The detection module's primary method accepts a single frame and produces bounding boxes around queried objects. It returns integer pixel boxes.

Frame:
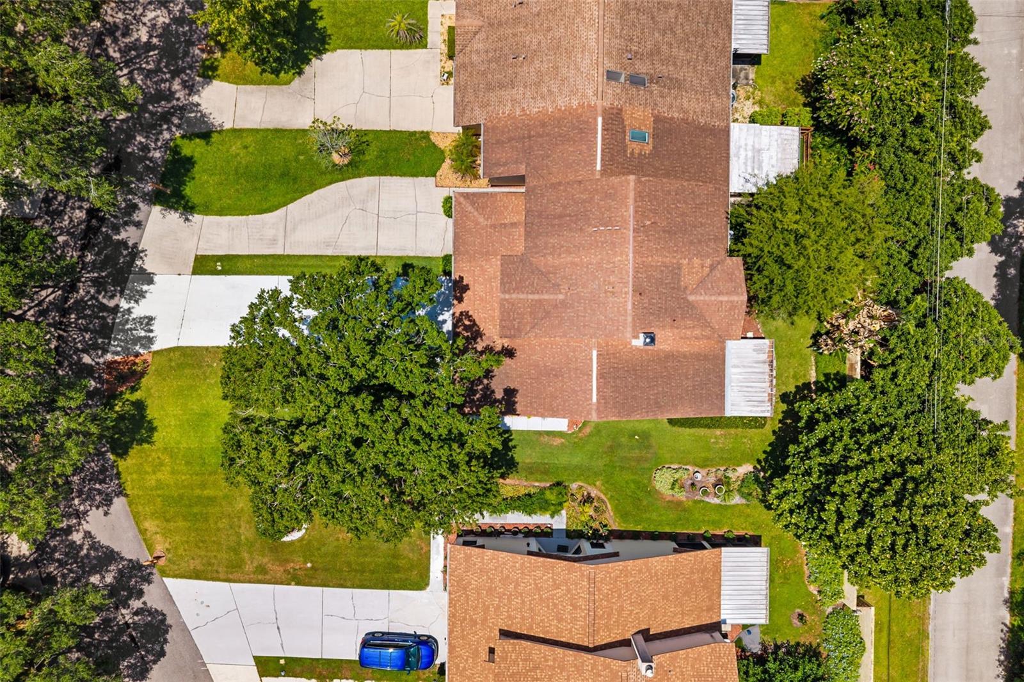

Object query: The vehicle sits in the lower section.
[357,630,439,676]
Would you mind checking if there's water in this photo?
No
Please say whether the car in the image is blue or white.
blue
